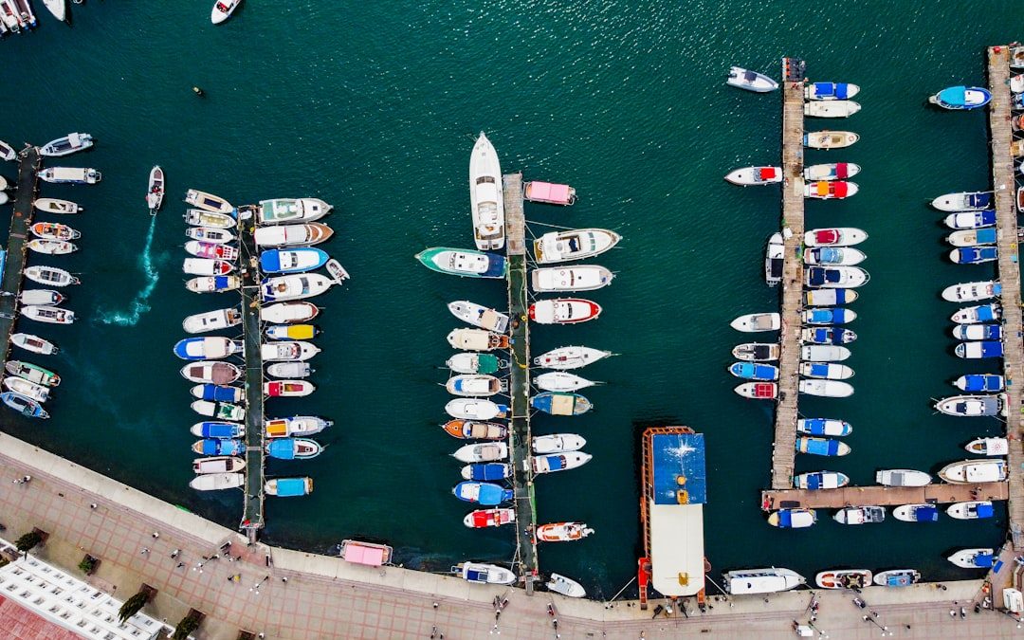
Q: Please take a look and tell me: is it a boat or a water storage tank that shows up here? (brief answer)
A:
boat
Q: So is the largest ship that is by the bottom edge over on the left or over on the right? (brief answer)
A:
right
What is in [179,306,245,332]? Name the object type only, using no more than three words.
boat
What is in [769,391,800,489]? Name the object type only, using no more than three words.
pier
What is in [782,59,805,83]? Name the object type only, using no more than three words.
pier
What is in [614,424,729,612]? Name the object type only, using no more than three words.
ship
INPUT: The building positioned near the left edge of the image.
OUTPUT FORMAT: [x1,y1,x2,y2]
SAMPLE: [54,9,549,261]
[0,555,167,640]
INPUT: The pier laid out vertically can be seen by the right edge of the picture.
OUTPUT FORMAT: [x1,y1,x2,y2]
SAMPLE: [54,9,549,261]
[983,45,1024,542]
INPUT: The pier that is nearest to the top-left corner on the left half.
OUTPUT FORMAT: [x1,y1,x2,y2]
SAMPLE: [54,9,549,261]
[0,144,42,405]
